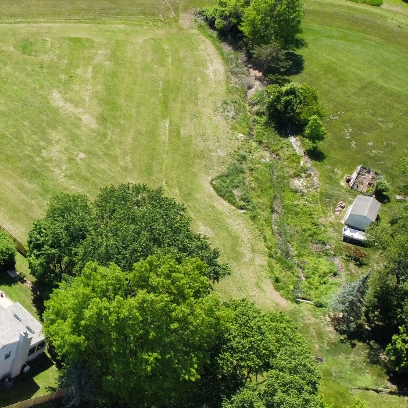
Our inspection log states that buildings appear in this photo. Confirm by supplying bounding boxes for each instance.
[0,302,46,381]
[328,191,378,229]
